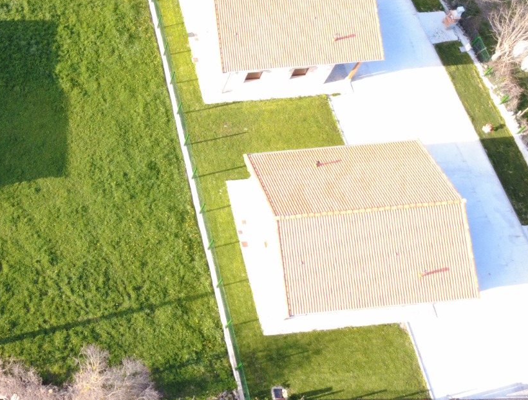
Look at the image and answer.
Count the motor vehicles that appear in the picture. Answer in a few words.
none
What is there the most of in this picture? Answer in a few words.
grass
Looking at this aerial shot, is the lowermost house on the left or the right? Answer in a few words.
right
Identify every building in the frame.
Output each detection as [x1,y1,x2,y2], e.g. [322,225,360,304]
[244,146,486,324]
[201,0,388,91]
